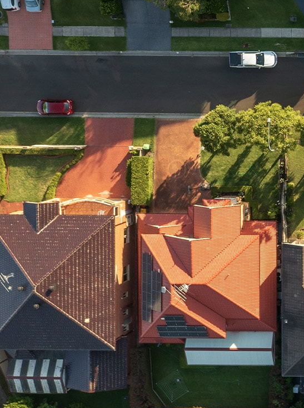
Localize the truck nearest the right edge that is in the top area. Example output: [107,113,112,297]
[229,49,279,71]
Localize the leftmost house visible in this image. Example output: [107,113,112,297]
[0,196,136,394]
